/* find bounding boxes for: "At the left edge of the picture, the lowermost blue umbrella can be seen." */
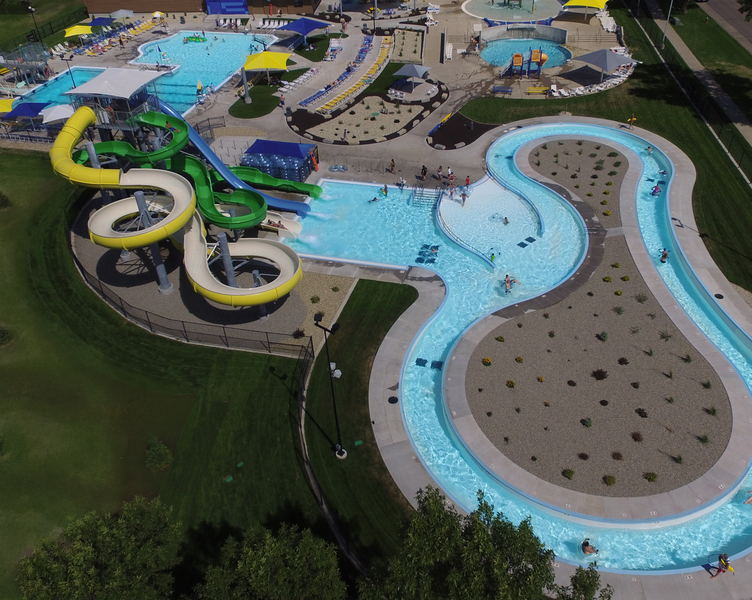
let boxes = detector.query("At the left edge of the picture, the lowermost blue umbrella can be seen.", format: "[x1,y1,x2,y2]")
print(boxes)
[1,103,53,129]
